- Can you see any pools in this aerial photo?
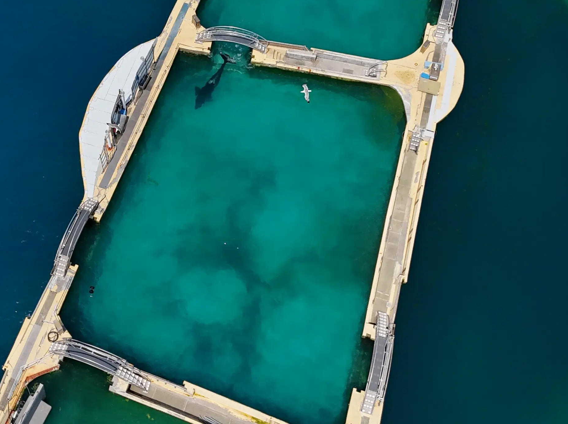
Yes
